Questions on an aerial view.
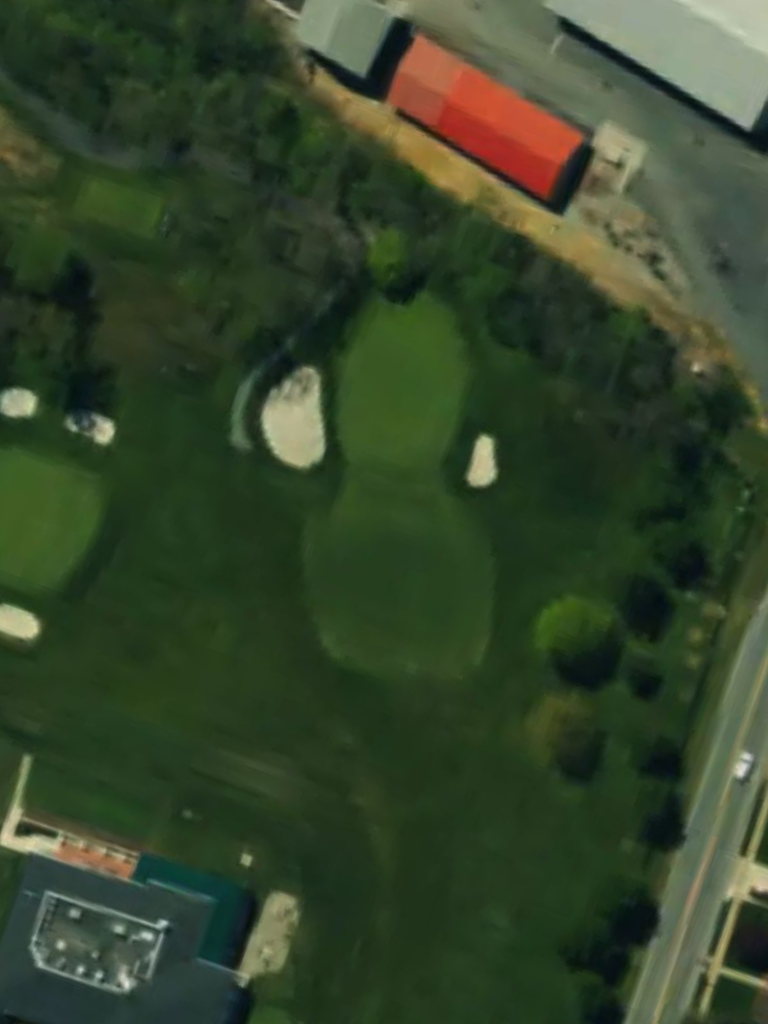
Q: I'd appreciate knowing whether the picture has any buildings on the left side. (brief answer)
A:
Yes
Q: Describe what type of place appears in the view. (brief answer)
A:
golf course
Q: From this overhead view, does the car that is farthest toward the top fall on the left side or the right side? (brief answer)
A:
right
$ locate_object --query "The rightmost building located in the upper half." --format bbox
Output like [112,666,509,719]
[544,0,768,132]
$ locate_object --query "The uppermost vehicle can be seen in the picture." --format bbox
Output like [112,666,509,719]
[734,751,754,781]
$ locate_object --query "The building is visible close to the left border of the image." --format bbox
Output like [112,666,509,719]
[0,854,248,1024]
